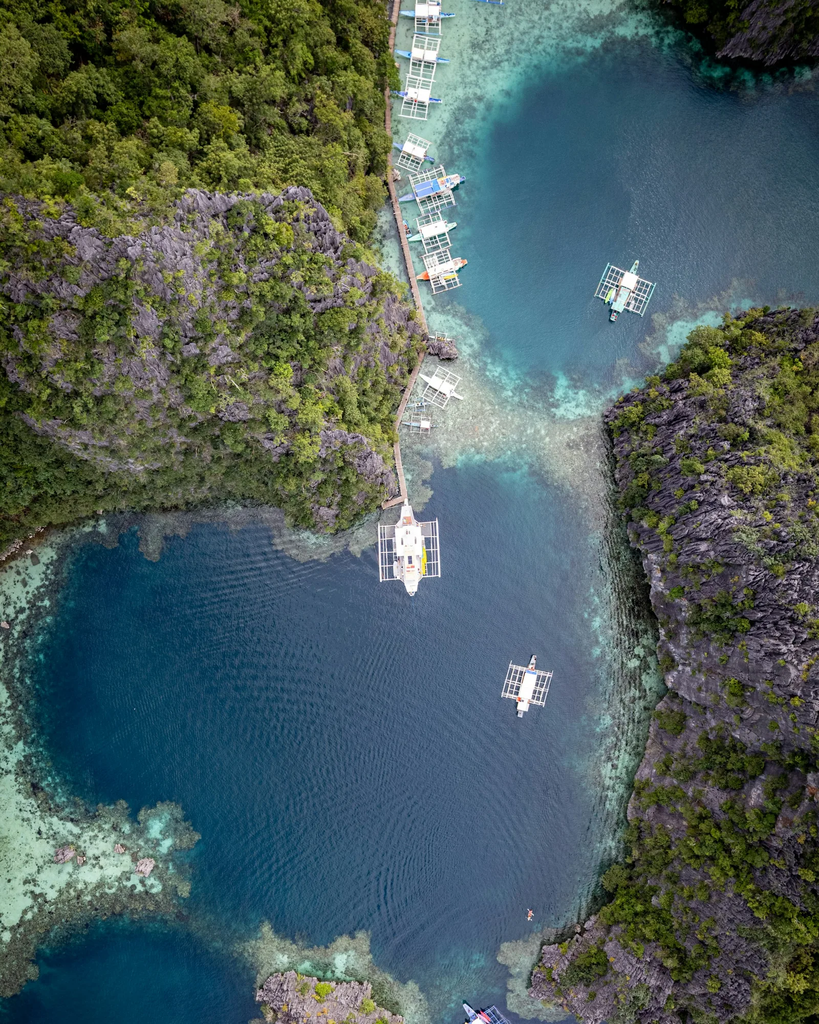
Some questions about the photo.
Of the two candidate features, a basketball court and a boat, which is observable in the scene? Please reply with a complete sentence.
I can see a boat in this picture.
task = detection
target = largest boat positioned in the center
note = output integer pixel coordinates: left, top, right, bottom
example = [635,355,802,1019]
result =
[374,499,441,596]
